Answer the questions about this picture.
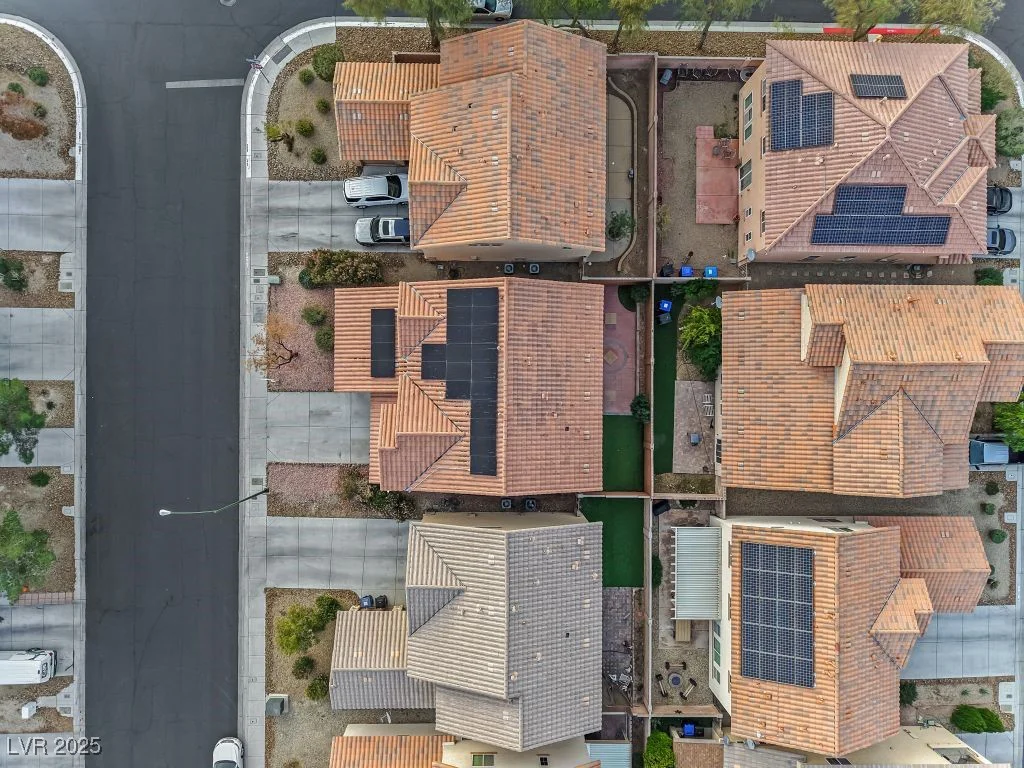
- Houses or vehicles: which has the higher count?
vehicles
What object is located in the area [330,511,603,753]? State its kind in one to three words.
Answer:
house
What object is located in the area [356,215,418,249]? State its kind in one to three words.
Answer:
car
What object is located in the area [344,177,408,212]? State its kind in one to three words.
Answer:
car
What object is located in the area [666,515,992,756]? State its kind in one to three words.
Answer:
house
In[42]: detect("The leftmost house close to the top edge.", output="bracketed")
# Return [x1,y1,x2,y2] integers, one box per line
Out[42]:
[334,18,607,262]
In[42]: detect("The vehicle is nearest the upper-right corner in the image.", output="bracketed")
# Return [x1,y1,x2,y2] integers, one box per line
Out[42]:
[987,185,1012,218]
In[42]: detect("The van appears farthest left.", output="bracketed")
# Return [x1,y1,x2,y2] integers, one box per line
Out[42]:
[0,647,56,684]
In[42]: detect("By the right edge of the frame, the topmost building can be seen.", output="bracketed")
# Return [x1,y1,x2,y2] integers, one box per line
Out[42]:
[740,38,998,272]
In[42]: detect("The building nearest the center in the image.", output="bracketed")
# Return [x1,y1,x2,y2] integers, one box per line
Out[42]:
[333,275,605,496]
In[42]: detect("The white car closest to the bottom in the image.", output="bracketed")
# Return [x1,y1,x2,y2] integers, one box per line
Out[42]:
[212,735,248,768]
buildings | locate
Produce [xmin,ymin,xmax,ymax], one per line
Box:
[666,515,992,756]
[330,511,603,753]
[740,38,998,272]
[333,275,605,496]
[334,18,607,262]
[711,283,1024,498]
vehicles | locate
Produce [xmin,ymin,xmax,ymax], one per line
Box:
[972,224,1016,257]
[356,215,418,249]
[212,735,248,768]
[987,185,1012,218]
[0,647,56,684]
[969,437,1024,464]
[344,177,408,212]
[469,0,514,23]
